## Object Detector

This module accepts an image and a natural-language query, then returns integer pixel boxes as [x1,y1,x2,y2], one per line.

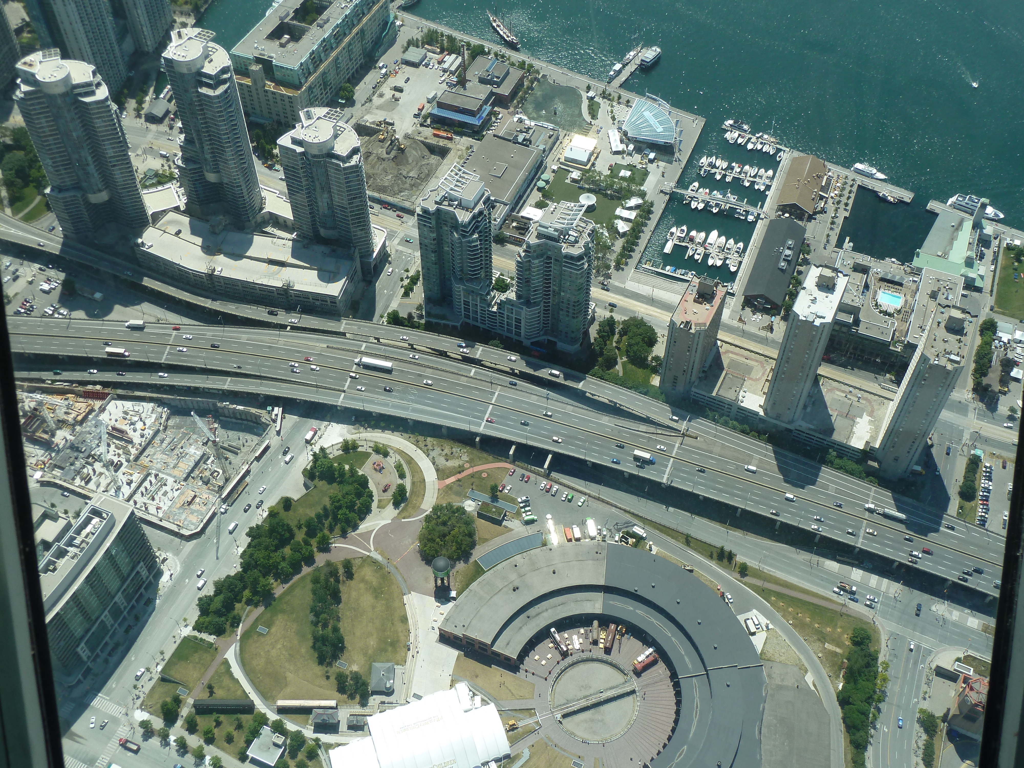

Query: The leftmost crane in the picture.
[16,390,73,434]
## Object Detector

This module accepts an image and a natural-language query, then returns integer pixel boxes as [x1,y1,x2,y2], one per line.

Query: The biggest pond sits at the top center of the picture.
[521,76,591,135]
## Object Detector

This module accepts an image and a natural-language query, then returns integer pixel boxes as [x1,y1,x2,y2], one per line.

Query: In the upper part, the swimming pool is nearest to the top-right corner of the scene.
[878,291,902,306]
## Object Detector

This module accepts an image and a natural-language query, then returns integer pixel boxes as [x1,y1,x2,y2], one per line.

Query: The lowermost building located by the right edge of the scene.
[942,674,989,746]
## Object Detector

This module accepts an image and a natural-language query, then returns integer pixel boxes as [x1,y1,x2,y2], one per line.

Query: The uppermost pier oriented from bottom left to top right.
[611,47,647,88]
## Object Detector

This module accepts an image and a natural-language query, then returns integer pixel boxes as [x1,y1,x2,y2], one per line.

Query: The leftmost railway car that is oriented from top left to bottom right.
[549,625,569,654]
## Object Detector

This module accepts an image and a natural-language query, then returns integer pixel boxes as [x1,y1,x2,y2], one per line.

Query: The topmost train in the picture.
[879,380,899,393]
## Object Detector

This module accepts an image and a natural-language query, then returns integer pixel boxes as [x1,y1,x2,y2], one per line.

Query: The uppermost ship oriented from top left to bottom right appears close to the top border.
[488,3,523,46]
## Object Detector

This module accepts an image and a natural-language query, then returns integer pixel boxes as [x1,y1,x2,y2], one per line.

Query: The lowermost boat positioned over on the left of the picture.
[157,84,171,98]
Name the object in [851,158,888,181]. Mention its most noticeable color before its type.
white vessel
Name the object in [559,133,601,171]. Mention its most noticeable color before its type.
white tent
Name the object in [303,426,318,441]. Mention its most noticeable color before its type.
white vehicle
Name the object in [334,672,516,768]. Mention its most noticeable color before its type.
white tent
